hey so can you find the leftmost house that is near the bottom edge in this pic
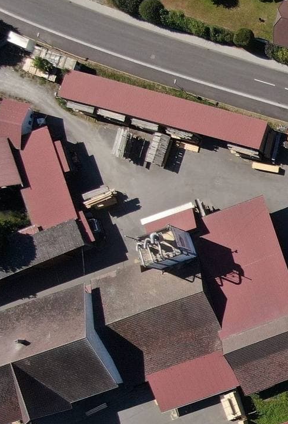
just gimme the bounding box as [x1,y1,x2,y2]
[0,283,131,424]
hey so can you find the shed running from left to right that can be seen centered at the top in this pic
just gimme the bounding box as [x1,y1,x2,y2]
[58,70,273,155]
